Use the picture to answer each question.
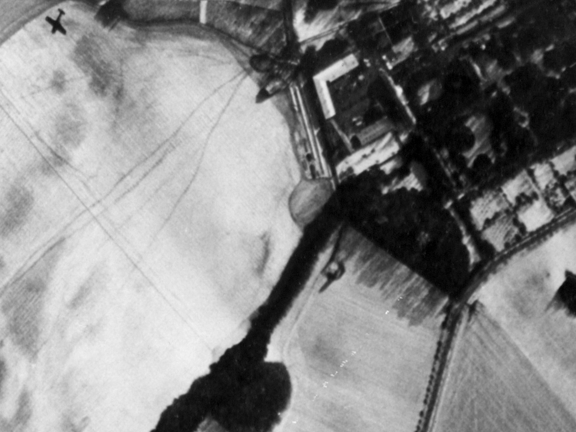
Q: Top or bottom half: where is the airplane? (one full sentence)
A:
The airplane sits in the top half of the picture.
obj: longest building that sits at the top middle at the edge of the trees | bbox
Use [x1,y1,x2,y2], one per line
[313,52,360,118]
